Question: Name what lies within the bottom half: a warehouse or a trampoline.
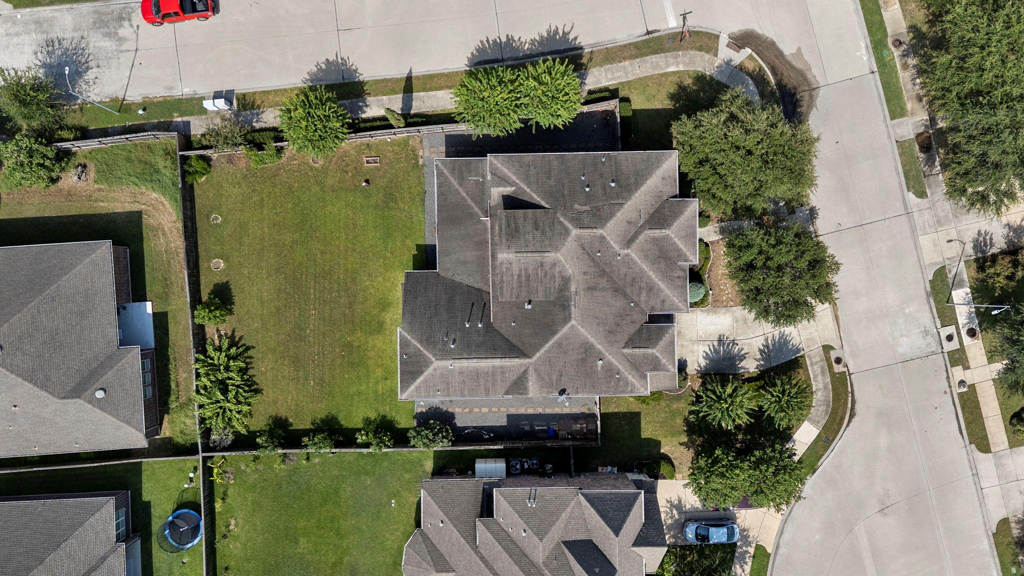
trampoline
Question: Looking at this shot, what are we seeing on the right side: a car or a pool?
car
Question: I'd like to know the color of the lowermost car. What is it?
blue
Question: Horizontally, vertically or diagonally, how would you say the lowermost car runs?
horizontally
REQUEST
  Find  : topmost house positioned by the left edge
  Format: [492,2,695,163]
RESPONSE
[0,239,166,458]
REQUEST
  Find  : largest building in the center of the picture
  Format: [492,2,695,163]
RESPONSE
[397,149,700,402]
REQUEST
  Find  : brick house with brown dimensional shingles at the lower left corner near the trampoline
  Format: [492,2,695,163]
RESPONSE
[0,489,135,576]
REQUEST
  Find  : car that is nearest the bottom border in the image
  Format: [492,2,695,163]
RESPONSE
[682,518,739,545]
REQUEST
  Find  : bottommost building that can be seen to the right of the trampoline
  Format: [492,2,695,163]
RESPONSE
[401,467,668,576]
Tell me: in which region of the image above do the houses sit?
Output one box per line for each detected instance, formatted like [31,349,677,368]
[0,489,135,576]
[401,467,668,576]
[0,239,166,458]
[397,149,700,402]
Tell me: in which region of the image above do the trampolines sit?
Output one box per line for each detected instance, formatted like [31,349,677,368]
[154,507,203,554]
